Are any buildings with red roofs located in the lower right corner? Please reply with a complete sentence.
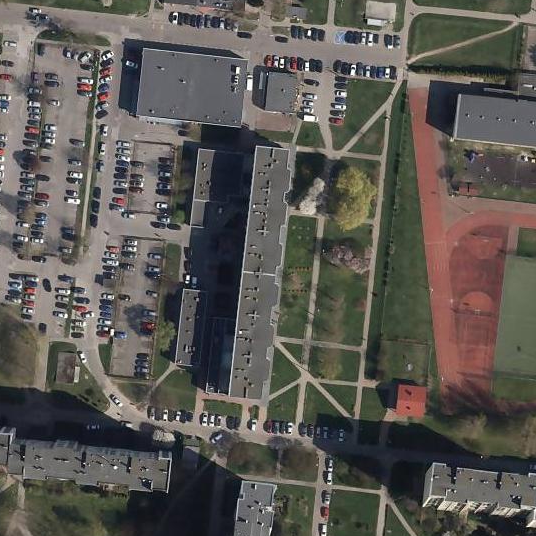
Yes, you'll find a building with a red roof in the lower right corner.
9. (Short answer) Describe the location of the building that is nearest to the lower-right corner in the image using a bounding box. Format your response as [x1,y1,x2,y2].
[429,462,536,521]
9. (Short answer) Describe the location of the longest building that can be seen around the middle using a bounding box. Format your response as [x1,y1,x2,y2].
[231,146,293,403]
